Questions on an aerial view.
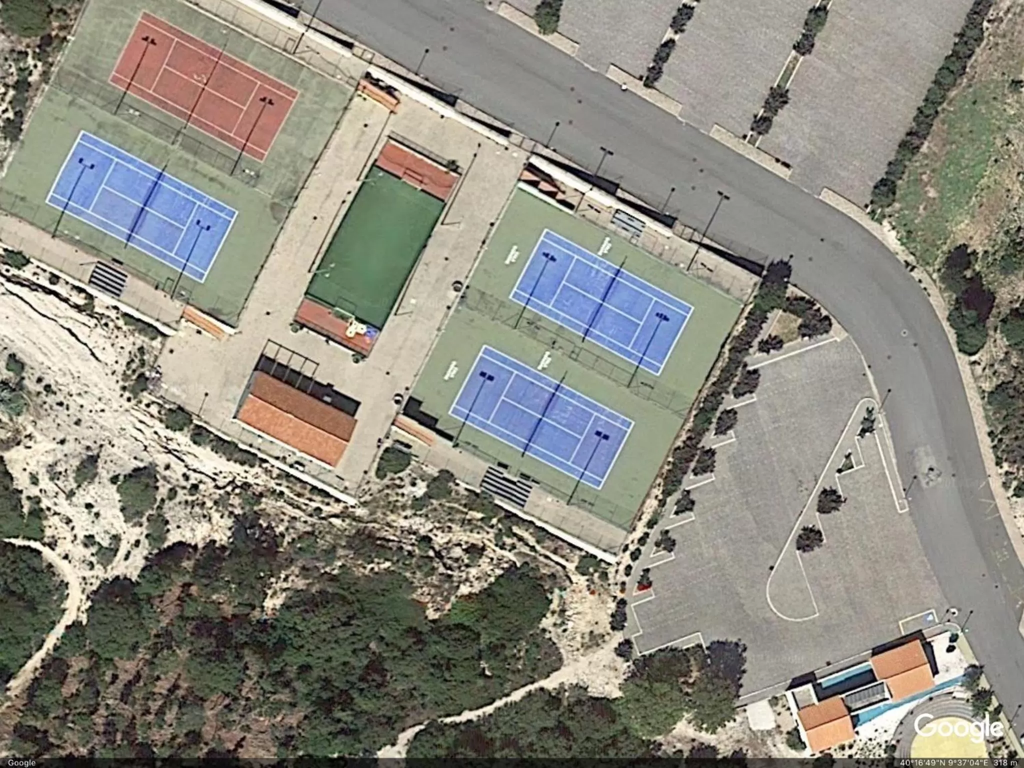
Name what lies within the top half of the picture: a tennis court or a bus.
tennis court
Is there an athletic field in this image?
Yes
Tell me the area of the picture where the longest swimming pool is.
bottom right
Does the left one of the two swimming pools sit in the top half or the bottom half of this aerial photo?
bottom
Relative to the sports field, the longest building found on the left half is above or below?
below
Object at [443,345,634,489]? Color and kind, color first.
blue tennis court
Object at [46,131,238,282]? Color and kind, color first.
blue tennis court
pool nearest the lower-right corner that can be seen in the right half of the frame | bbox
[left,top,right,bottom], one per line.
[850,675,966,727]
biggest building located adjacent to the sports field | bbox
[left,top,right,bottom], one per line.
[231,370,357,470]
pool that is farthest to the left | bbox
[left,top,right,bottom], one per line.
[816,664,871,692]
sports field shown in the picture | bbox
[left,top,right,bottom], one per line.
[292,140,462,360]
